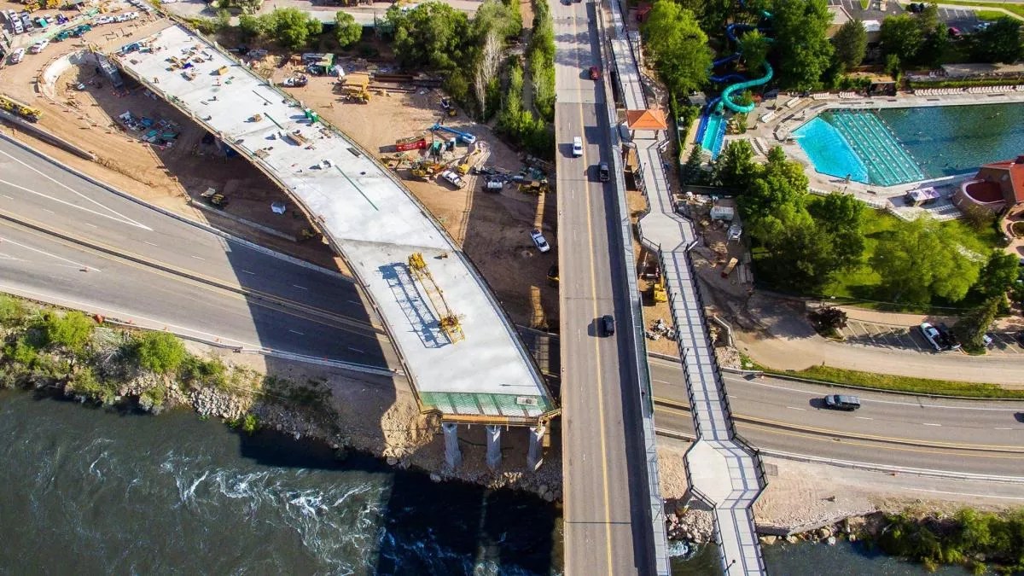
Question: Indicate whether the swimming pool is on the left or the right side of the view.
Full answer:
The swimming pool appears in the right half of the scene.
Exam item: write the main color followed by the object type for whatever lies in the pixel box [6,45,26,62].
white vehicle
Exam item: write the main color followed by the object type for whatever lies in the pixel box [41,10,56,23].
white vehicle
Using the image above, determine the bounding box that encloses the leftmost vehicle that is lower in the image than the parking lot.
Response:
[826,393,864,410]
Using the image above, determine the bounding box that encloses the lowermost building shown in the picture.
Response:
[959,135,1024,221]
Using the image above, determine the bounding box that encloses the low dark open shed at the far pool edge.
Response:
[866,81,898,102]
